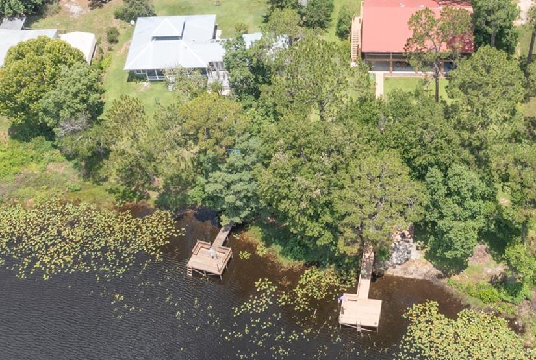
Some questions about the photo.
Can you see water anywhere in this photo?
Yes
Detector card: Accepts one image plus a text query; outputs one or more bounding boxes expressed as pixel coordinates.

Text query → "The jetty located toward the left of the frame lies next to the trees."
[186,221,236,279]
